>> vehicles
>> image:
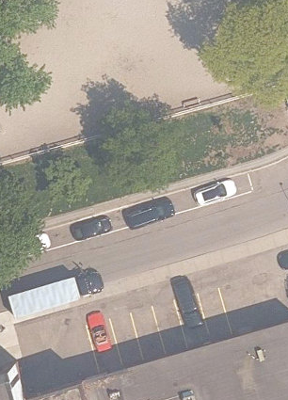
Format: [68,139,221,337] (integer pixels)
[192,179,238,205]
[86,310,110,353]
[172,274,201,328]
[121,198,175,228]
[68,215,113,241]
[276,250,288,269]
[8,273,103,321]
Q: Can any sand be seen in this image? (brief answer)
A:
Yes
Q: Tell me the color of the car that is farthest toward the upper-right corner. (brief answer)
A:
white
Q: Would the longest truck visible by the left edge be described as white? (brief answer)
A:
Yes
